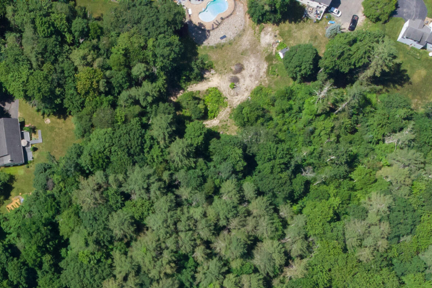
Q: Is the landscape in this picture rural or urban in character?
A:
rural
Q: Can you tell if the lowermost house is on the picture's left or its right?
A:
left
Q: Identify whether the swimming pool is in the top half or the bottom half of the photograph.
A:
top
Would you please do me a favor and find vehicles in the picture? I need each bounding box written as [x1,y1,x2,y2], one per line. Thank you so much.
[330,6,342,17]
[349,14,359,31]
